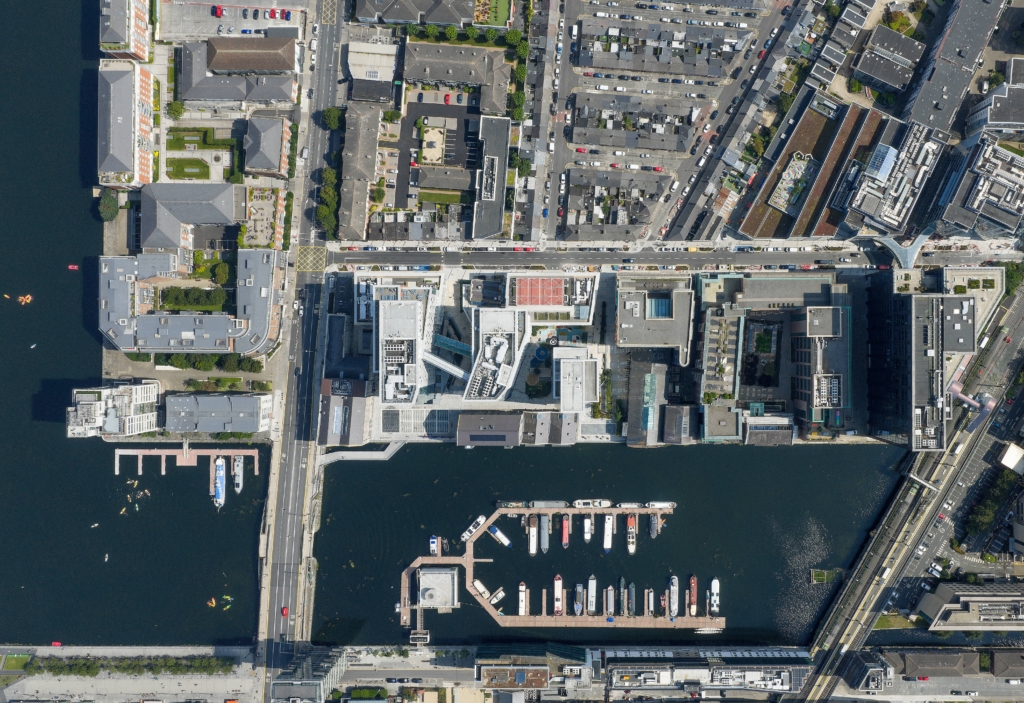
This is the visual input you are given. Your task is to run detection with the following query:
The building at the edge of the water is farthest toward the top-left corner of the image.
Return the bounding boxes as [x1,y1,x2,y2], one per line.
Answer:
[100,0,149,68]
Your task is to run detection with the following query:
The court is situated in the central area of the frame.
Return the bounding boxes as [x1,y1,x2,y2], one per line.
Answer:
[516,278,564,306]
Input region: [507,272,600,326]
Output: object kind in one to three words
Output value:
building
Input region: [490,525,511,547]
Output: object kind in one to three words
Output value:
boat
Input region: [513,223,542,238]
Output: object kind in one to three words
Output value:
house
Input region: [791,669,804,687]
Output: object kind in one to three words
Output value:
solar panel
